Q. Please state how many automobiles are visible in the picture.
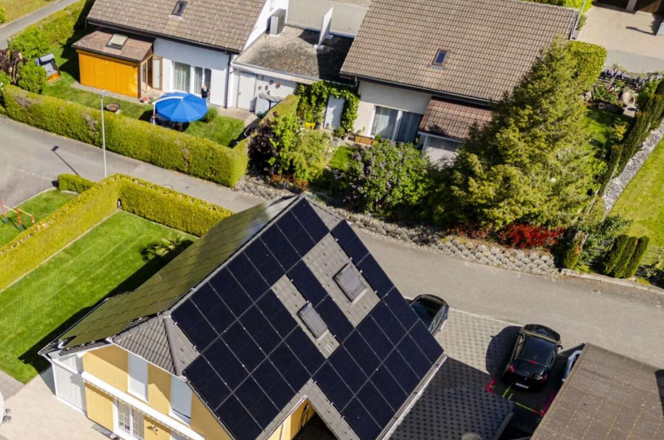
three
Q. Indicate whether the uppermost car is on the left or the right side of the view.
right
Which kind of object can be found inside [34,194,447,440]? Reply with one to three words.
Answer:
house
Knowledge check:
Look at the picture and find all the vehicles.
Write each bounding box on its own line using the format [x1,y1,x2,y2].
[412,284,464,341]
[554,341,586,398]
[502,323,567,393]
